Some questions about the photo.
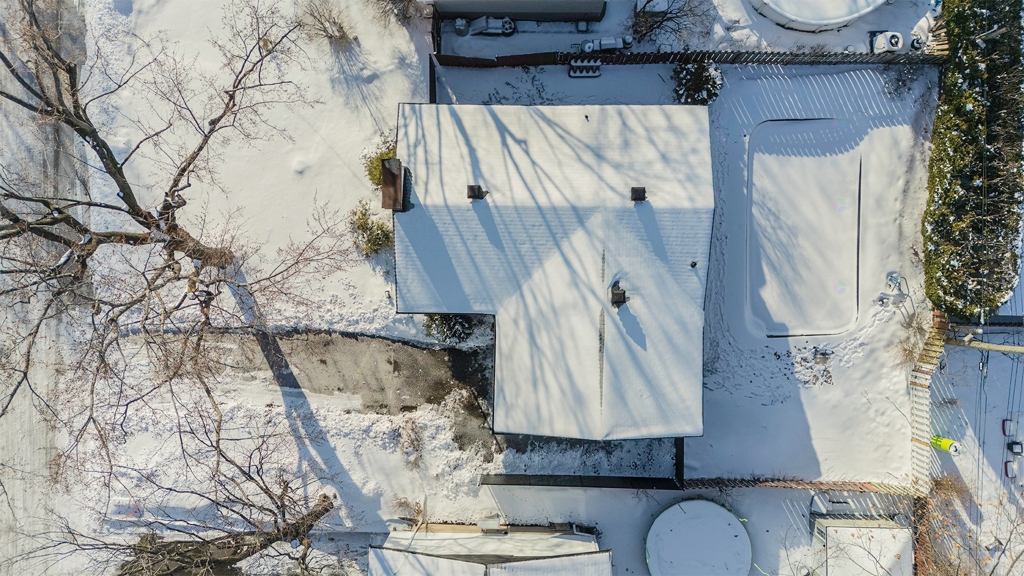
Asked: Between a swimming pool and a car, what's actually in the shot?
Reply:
swimming pool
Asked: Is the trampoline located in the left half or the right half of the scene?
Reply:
right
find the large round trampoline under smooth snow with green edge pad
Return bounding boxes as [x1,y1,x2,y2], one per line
[643,499,771,576]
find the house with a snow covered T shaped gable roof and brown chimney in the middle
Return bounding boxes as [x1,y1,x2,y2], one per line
[383,102,715,442]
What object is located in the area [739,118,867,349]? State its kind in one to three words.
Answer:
swimming pool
